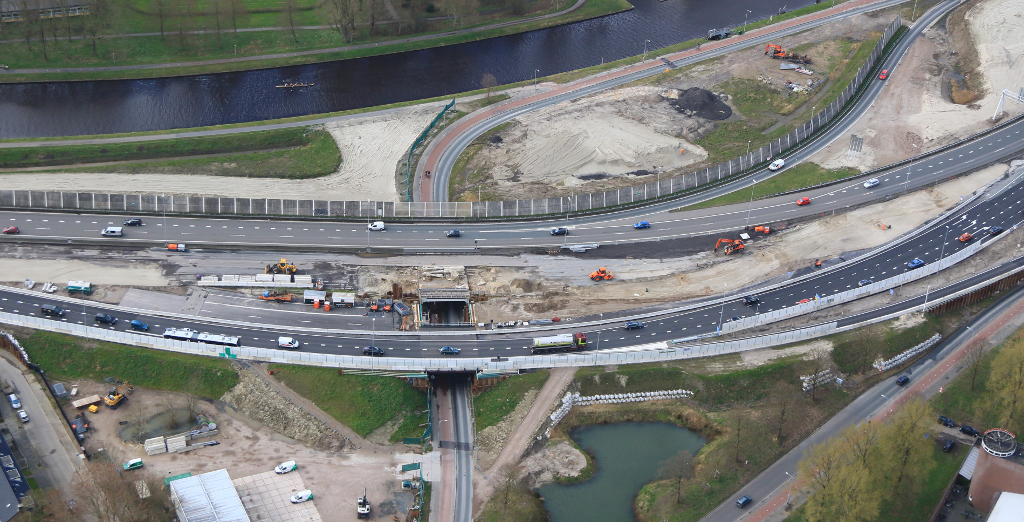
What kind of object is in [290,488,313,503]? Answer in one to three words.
vehicle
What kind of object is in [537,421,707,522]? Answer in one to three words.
pond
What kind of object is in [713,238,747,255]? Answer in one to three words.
work vehicle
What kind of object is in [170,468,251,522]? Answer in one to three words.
shed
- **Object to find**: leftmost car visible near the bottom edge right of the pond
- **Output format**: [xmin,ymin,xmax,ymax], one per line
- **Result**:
[736,496,751,508]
